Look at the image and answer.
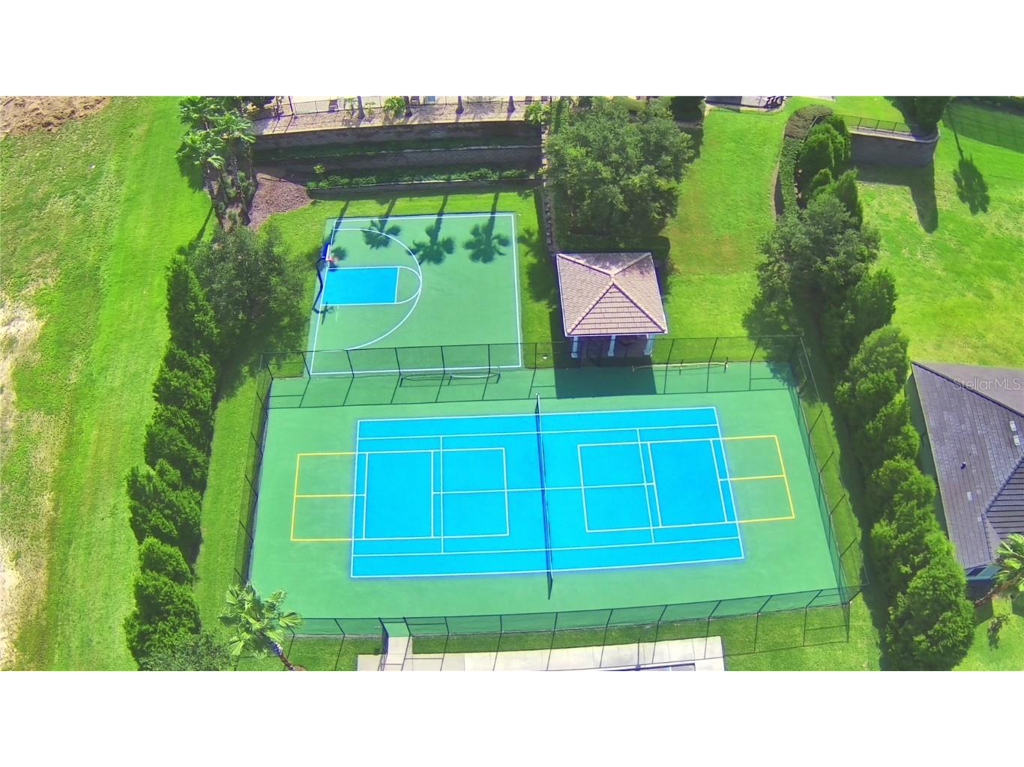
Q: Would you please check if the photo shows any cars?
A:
No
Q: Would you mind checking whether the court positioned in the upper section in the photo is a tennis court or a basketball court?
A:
basketball court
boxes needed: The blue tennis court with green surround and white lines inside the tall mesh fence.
[242,361,853,639]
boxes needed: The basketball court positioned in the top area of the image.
[304,212,523,376]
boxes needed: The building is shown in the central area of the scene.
[556,251,668,364]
